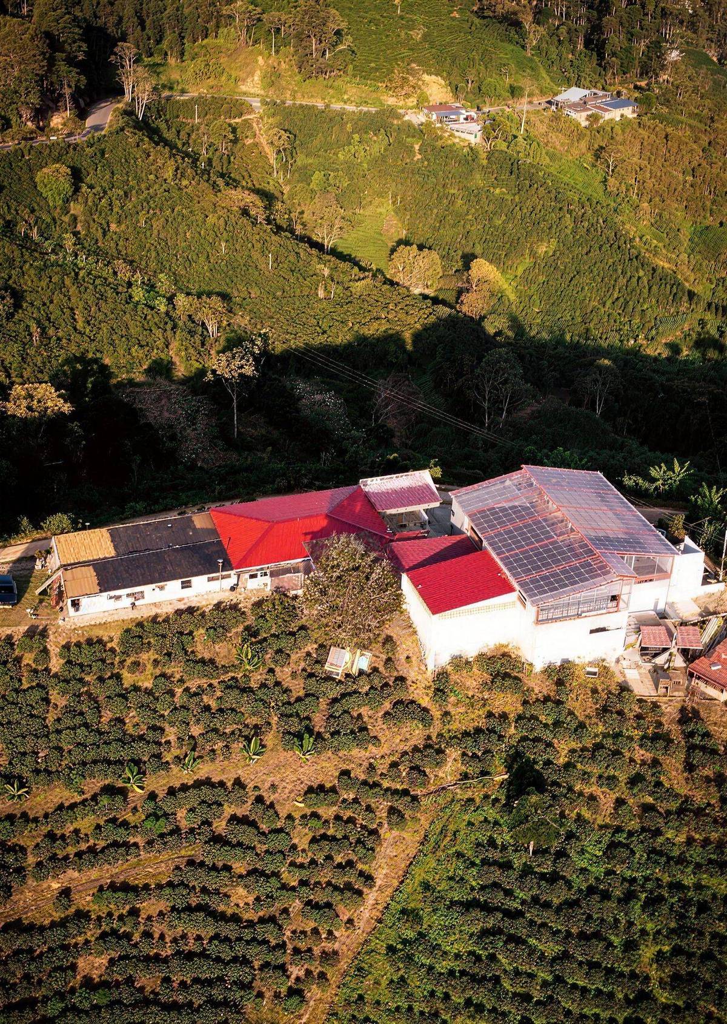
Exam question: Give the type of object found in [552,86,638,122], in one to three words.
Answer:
house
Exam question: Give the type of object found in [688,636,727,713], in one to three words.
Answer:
house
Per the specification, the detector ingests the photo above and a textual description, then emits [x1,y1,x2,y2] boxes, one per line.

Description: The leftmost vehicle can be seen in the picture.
[0,566,20,605]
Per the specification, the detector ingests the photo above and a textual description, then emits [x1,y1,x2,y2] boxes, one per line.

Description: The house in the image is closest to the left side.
[50,511,231,617]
